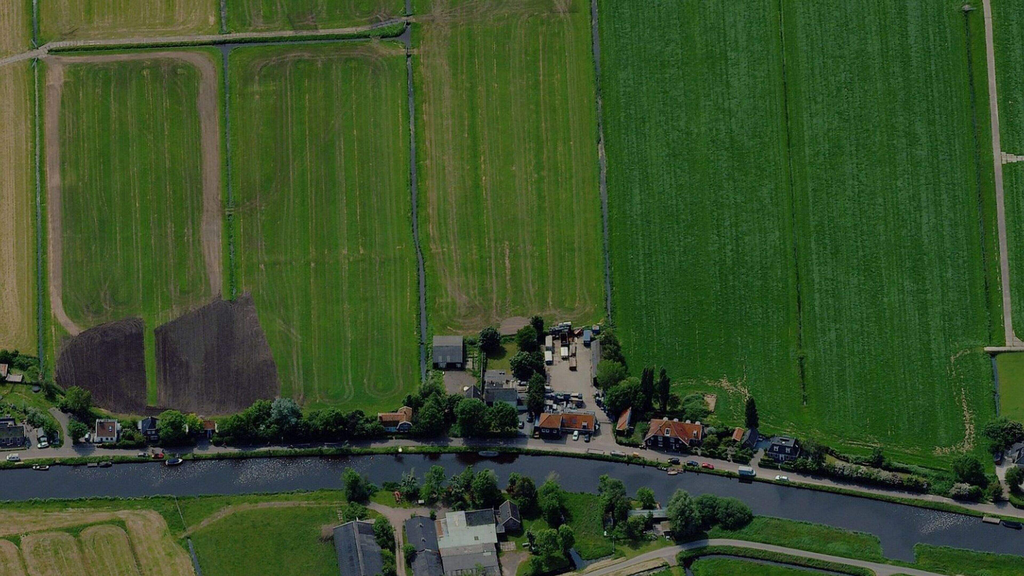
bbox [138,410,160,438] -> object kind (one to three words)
house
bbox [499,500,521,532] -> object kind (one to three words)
house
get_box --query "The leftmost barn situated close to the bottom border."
[333,521,381,576]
